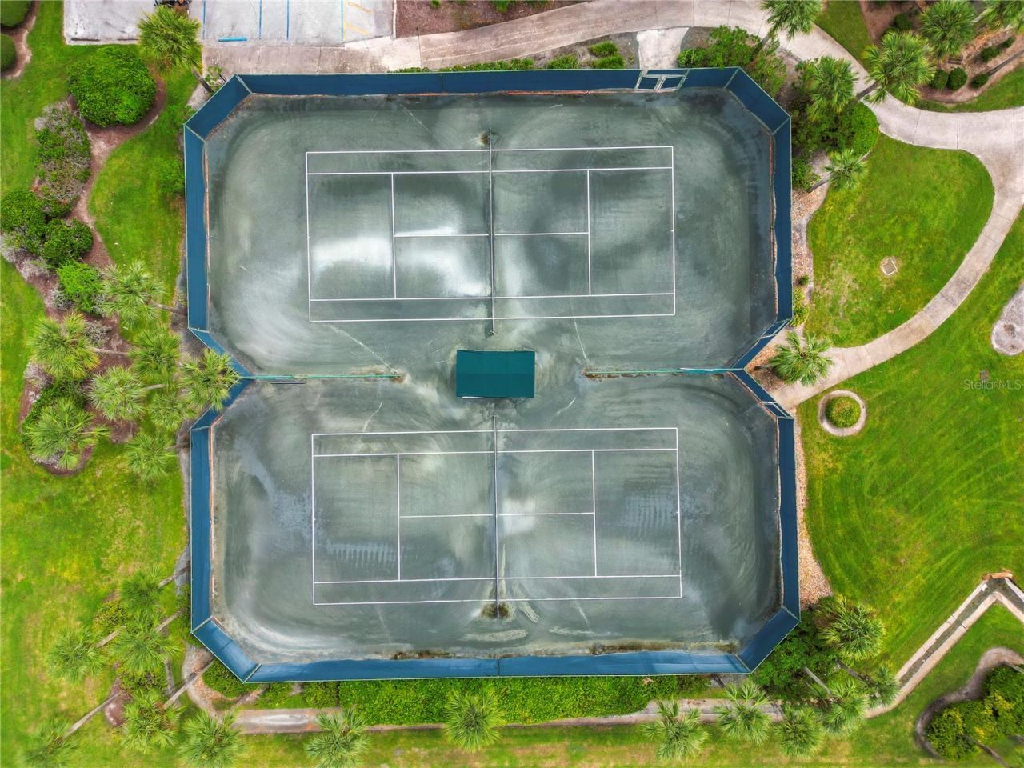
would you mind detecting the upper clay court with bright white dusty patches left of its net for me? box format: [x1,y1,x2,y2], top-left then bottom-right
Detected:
[205,88,776,376]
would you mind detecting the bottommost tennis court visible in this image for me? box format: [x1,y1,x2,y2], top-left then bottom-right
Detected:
[211,370,782,663]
